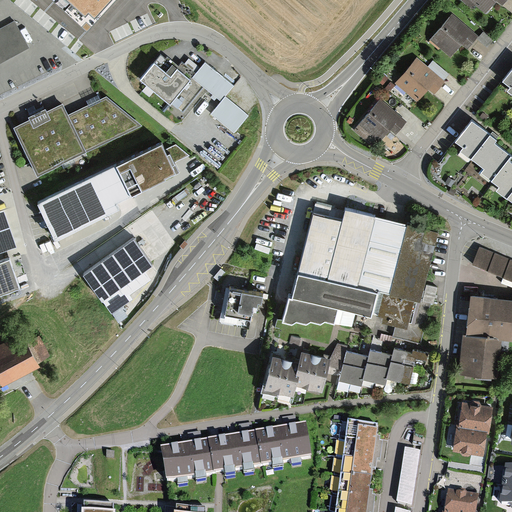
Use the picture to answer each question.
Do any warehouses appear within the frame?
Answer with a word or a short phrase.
Yes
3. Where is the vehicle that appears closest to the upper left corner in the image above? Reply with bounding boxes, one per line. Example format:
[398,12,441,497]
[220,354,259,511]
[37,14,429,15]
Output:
[18,24,32,44]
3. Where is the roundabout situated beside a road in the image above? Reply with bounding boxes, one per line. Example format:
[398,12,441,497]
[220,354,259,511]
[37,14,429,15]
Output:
[266,94,336,162]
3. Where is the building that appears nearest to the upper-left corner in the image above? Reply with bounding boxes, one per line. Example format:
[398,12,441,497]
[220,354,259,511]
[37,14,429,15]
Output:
[0,22,30,65]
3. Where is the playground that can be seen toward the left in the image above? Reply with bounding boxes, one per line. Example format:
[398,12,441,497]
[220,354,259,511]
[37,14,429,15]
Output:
[130,460,164,494]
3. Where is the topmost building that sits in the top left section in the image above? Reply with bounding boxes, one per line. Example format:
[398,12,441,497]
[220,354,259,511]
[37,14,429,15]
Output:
[57,0,120,30]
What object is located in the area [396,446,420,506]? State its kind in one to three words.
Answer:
building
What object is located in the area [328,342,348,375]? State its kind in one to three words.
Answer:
house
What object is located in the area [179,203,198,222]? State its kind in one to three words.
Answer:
vehicle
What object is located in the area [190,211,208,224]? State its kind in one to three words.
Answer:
vehicle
